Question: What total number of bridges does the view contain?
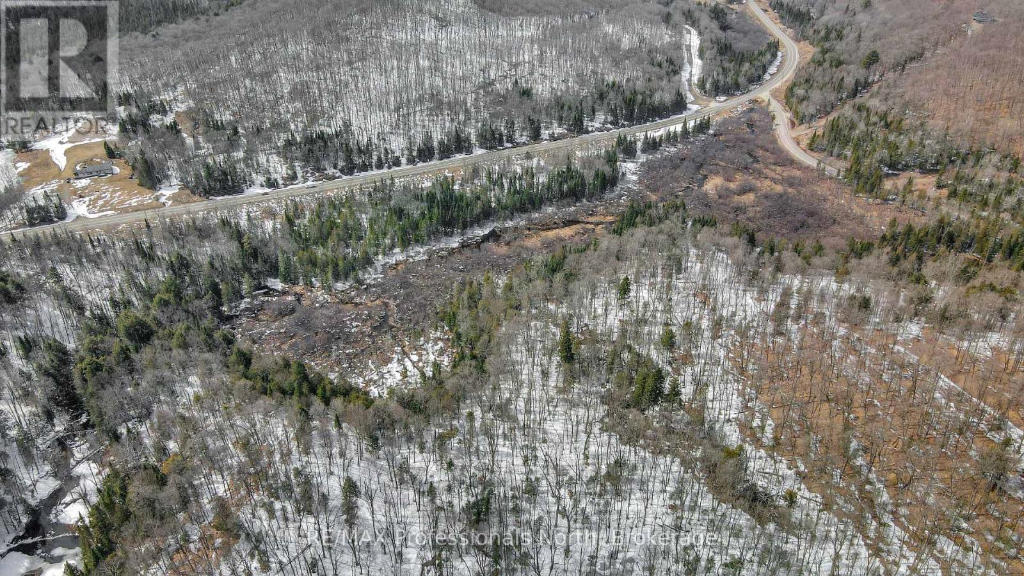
zero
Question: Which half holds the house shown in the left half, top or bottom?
top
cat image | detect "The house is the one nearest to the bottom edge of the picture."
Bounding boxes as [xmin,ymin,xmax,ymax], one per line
[71,158,110,178]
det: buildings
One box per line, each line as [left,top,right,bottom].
[969,10,995,23]
[71,158,110,178]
